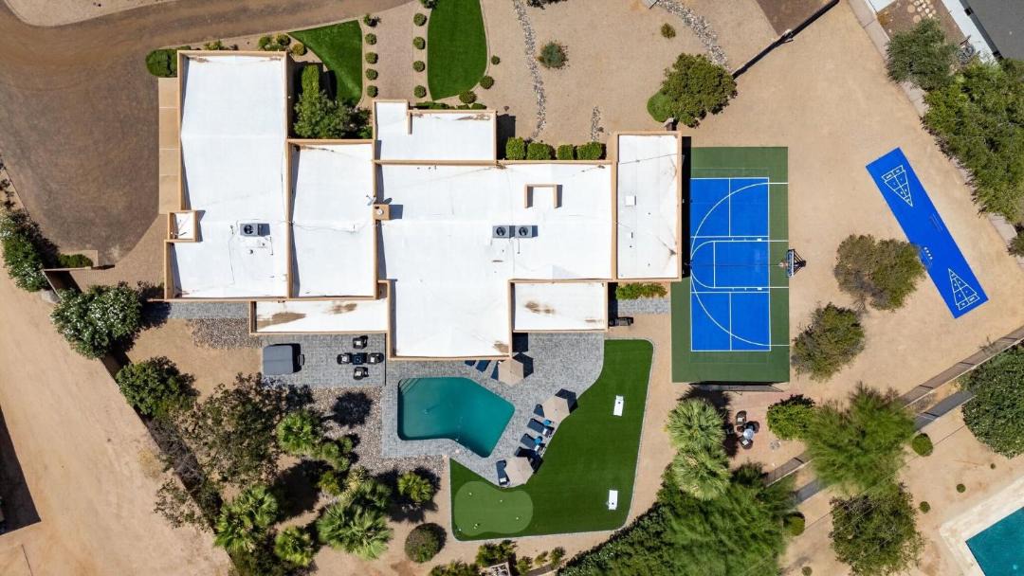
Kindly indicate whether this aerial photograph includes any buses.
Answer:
No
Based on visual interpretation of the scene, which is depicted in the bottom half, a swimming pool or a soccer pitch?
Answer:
swimming pool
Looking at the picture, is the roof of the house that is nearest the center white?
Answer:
Yes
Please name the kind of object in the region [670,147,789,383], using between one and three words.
sports court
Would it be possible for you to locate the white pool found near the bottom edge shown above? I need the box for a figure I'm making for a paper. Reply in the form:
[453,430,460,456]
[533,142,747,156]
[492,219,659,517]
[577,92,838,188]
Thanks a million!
[940,477,1024,576]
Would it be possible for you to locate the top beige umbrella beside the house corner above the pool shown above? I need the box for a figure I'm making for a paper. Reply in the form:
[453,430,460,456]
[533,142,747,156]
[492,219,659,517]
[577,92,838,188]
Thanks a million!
[499,359,523,385]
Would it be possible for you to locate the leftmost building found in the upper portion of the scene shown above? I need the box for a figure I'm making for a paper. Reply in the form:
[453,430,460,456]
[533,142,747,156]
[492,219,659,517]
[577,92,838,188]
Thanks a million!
[161,50,682,360]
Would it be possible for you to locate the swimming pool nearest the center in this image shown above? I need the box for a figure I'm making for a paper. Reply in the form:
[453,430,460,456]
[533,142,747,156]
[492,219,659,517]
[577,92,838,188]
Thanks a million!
[394,373,519,462]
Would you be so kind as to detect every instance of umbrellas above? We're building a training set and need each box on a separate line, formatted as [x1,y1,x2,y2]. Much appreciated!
[542,396,569,423]
[499,359,523,385]
[506,455,531,484]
